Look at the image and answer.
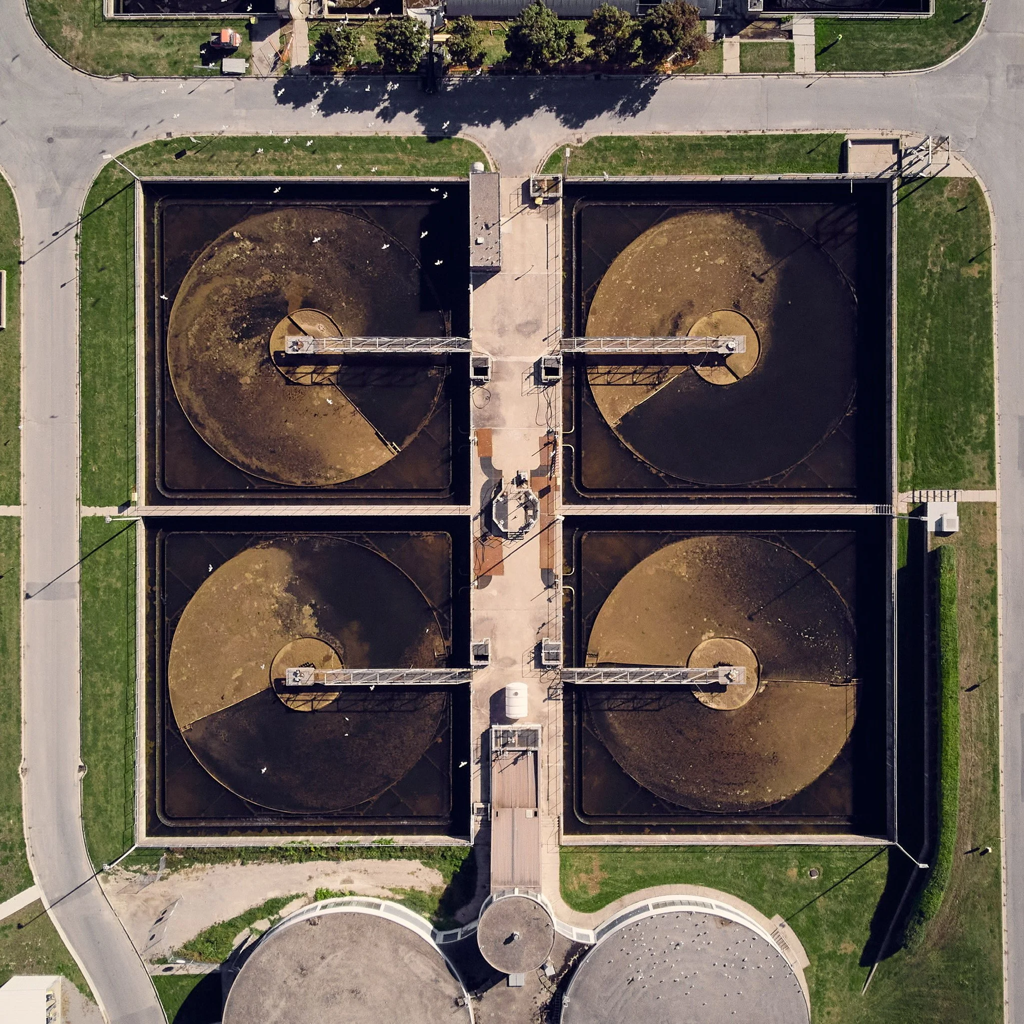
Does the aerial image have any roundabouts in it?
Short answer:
No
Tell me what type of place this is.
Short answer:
industrial area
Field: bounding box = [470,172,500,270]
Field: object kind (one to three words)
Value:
shed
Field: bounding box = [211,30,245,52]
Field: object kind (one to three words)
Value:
vehicle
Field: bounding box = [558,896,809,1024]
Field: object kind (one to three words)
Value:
building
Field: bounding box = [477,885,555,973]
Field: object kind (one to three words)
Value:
building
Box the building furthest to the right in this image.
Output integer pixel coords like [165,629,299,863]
[921,502,958,531]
